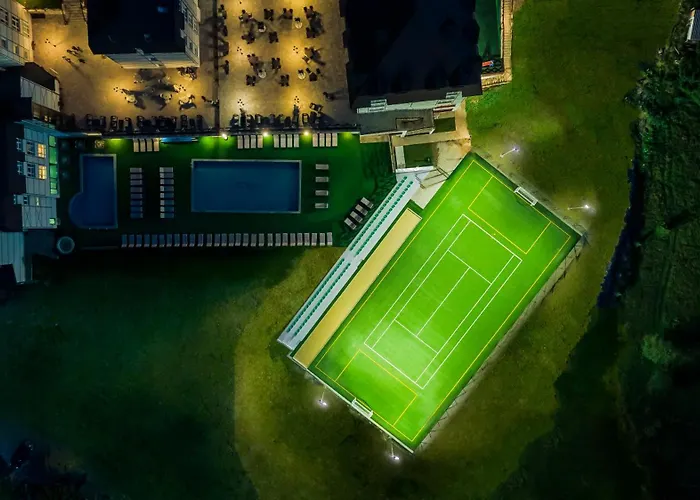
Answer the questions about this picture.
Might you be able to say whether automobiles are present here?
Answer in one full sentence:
No, there isn't any automobile down there.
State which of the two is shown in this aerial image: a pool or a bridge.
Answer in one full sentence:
It is a pool that can be seen here.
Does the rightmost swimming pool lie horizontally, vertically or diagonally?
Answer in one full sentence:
The rightmost swimming pool has been laid out horizontally relative to the frame.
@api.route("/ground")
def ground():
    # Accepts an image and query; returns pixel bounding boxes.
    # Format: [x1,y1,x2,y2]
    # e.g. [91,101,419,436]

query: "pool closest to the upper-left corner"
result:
[68,155,116,228]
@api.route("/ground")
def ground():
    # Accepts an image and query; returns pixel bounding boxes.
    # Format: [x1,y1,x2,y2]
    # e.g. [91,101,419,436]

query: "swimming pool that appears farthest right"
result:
[190,159,300,213]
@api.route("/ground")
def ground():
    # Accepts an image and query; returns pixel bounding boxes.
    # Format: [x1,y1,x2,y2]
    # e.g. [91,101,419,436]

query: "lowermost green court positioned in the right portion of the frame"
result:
[287,148,584,456]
